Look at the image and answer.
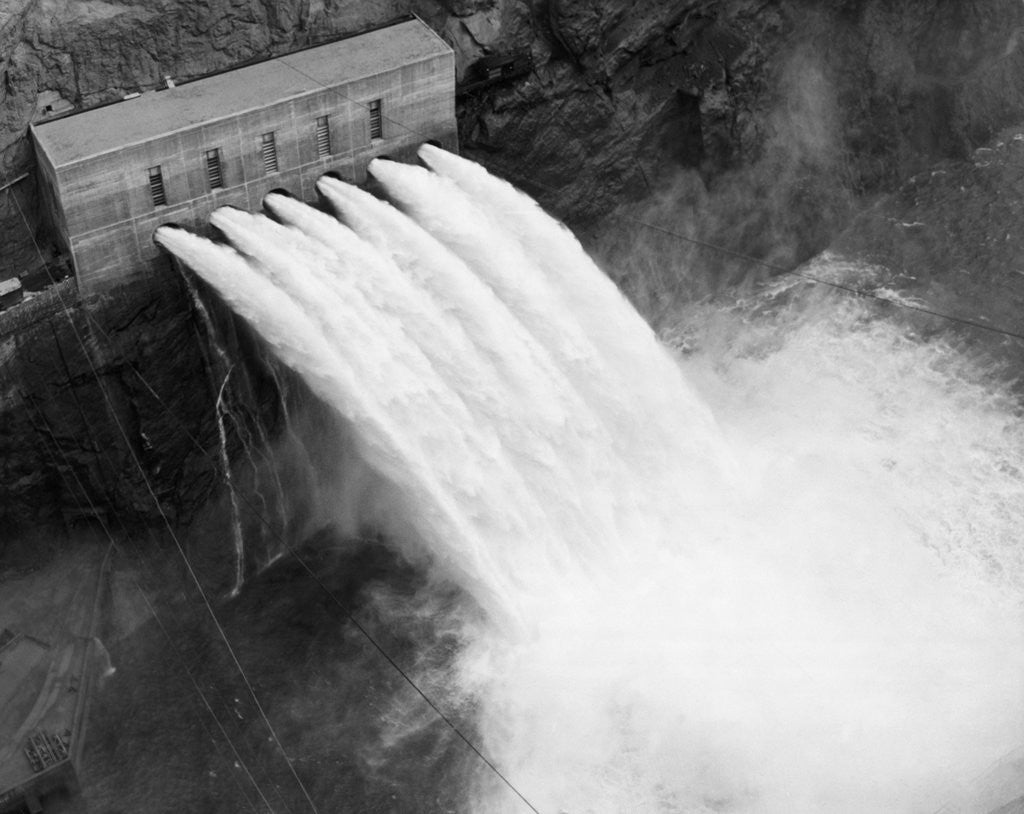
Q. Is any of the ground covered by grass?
No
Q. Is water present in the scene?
Yes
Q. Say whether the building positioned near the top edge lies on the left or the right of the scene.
left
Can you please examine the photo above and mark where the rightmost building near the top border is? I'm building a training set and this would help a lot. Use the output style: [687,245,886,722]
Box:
[26,15,456,293]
